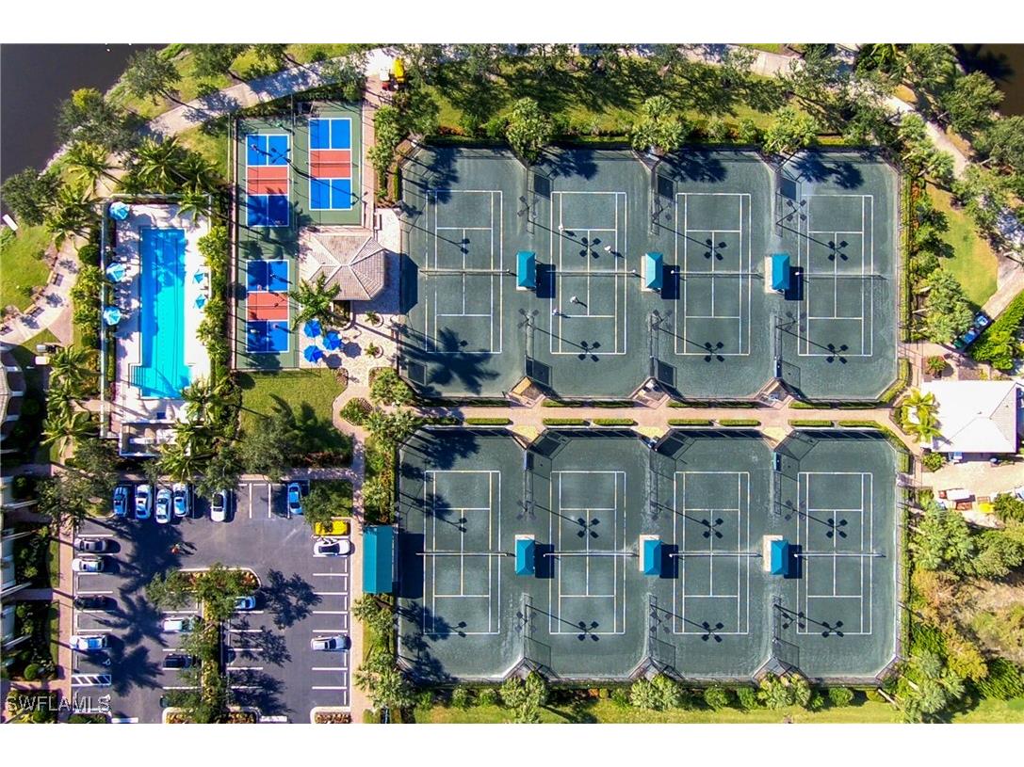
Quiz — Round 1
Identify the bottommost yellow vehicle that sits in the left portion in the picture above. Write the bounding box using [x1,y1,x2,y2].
[316,520,347,535]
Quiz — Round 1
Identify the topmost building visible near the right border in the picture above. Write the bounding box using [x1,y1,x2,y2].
[914,380,1018,453]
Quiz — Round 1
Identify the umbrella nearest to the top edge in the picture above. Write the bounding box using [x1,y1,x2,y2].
[110,201,130,220]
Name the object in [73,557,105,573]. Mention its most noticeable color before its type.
white car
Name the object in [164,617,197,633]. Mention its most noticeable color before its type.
white car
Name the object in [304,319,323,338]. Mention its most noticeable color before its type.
blue umbrella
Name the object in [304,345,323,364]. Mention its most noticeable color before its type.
blue umbrella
